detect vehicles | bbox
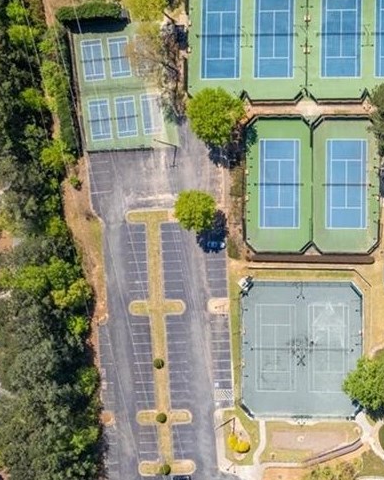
[173,474,191,480]
[208,240,226,249]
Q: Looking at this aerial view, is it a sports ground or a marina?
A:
sports ground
